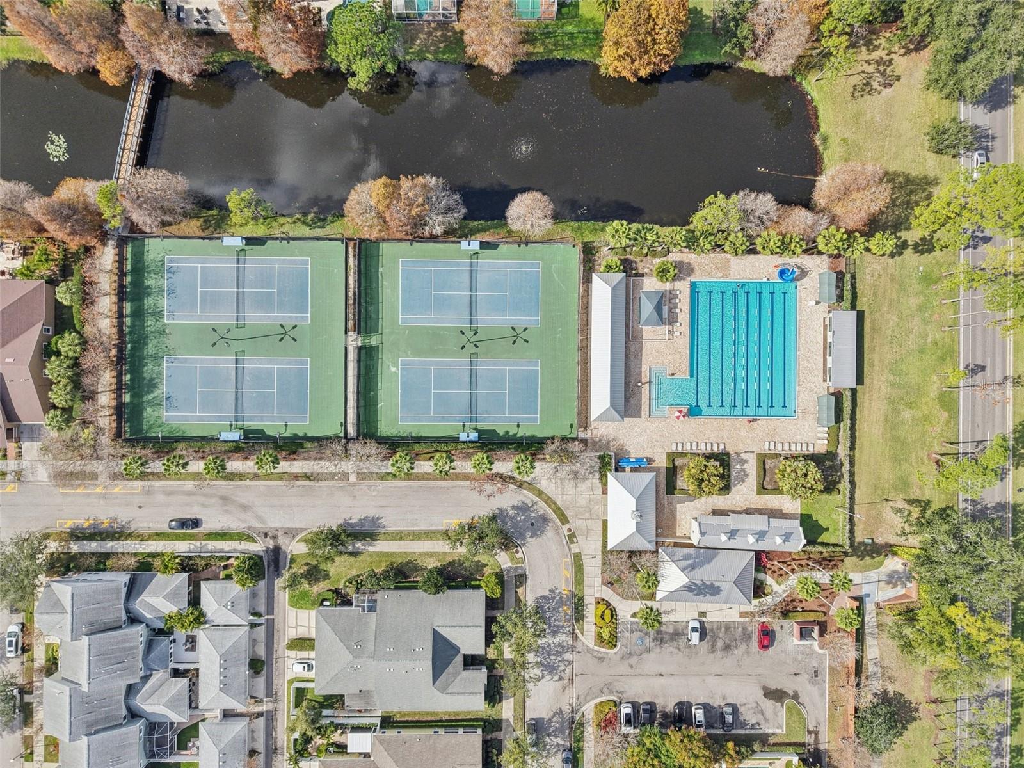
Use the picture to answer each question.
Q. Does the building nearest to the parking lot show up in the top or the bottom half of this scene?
bottom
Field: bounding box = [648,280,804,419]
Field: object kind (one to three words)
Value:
swimming pool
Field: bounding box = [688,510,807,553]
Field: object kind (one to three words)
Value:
building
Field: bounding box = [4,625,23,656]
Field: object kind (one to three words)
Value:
car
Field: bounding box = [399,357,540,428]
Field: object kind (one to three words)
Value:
tennis court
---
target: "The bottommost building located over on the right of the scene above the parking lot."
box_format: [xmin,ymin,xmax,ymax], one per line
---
[656,547,755,605]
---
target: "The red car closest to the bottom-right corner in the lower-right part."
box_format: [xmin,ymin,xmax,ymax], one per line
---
[757,622,772,651]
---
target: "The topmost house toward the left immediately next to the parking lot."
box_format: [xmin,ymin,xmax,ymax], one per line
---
[316,587,485,710]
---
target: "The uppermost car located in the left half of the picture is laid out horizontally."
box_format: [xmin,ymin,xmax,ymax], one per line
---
[169,517,200,531]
